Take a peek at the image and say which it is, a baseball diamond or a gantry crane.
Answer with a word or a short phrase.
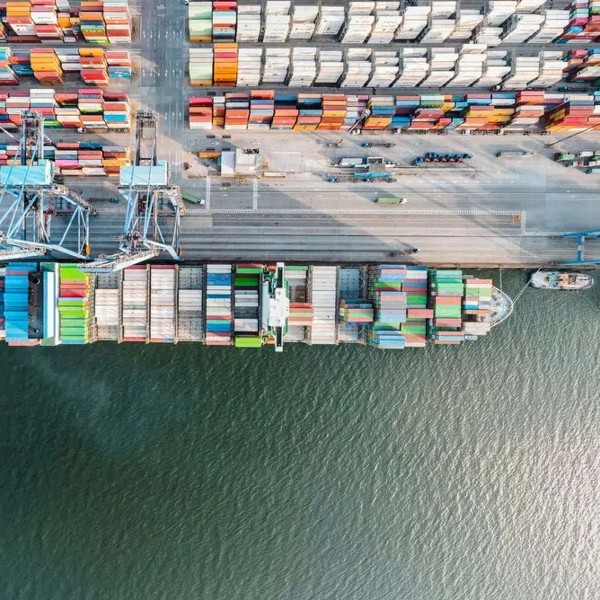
gantry crane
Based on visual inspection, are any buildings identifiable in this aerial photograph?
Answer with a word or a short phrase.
Yes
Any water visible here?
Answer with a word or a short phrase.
Yes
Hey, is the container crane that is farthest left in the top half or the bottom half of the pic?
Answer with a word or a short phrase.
top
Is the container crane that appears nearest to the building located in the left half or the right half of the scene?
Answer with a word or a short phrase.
left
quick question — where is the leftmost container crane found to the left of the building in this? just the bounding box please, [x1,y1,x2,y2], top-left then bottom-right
[0,107,100,261]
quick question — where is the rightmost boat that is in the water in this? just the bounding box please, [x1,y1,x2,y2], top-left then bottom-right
[527,272,594,291]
